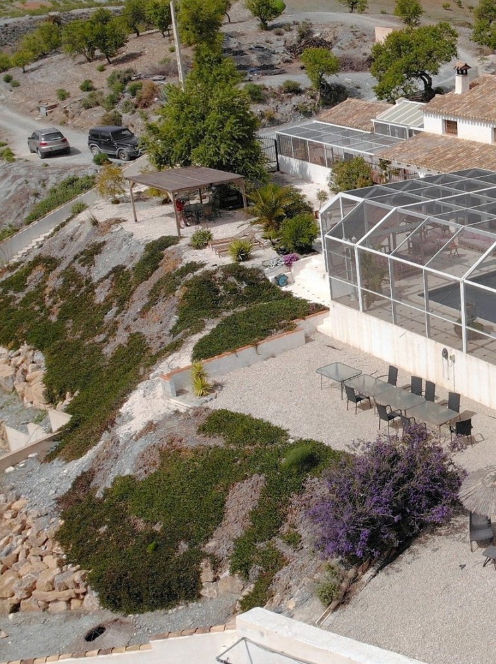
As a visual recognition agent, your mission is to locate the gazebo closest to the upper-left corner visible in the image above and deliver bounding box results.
[124,166,249,235]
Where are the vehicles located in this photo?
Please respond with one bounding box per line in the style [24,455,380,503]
[7,120,77,155]
[91,118,155,160]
